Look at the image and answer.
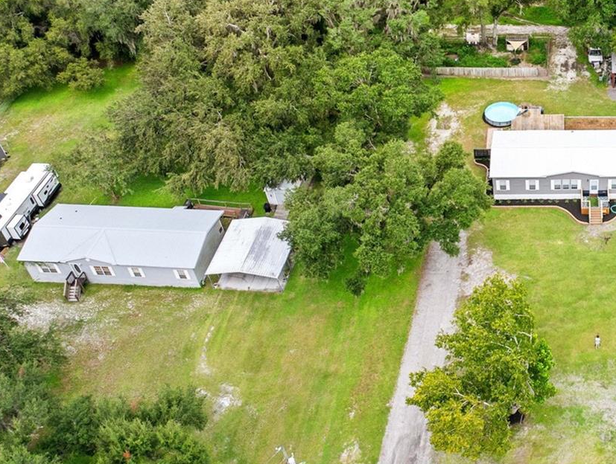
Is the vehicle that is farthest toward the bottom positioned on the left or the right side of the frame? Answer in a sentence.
The vehicle that is farthest toward the bottom sits on the left side.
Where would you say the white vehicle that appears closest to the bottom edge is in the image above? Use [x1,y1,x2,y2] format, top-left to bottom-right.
[0,165,57,256]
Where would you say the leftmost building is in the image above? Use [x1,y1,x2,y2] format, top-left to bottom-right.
[17,204,227,287]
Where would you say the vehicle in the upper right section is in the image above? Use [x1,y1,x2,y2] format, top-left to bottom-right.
[589,44,604,69]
